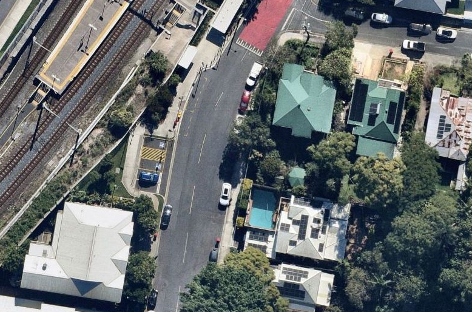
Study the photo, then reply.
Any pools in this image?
Yes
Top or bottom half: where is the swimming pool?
bottom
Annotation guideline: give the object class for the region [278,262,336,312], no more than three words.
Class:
house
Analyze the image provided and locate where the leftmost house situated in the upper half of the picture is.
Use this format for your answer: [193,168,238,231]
[273,61,337,139]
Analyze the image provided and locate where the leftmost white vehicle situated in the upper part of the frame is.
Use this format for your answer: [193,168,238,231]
[246,59,265,87]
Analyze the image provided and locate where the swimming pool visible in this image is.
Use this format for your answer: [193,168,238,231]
[248,188,278,231]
